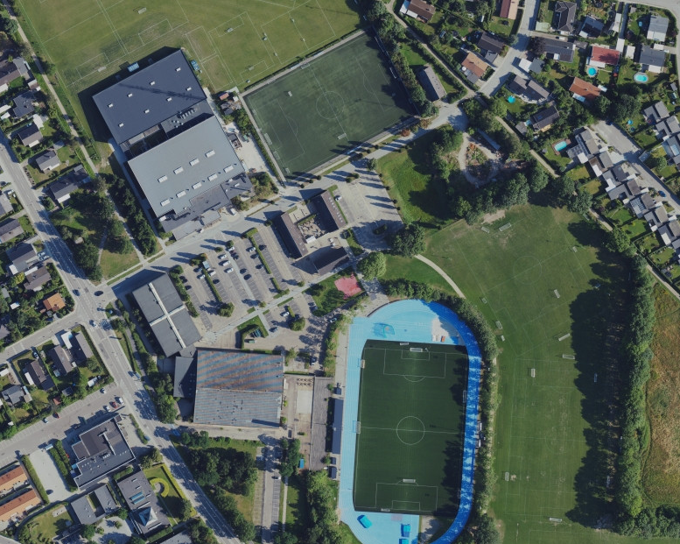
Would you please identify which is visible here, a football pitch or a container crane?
football pitch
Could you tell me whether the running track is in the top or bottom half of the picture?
bottom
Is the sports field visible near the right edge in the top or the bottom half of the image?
bottom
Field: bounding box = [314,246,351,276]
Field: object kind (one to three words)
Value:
building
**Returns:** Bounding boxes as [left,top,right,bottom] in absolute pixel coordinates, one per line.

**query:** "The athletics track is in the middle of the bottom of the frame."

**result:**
[338,299,481,544]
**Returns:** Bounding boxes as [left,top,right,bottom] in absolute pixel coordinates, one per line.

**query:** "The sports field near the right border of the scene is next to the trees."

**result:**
[430,201,680,544]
